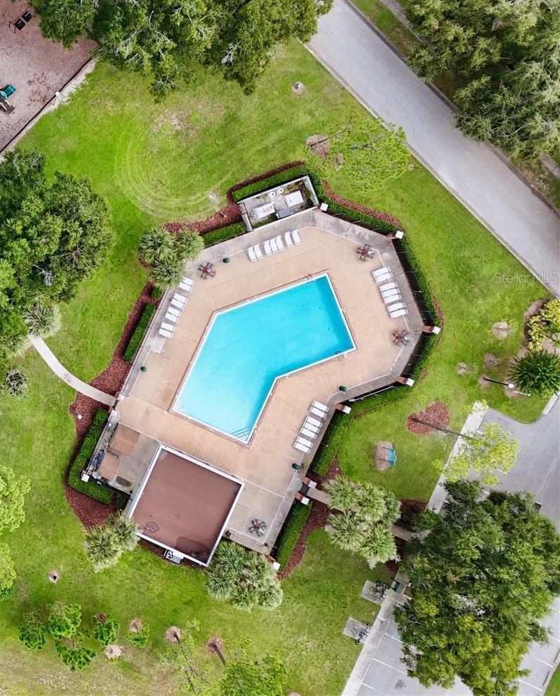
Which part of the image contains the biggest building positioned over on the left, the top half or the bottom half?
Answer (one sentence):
It is in the bottom half that the biggest building positioned over on the left appears.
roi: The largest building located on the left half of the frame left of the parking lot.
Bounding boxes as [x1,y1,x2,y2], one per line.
[124,442,246,567]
